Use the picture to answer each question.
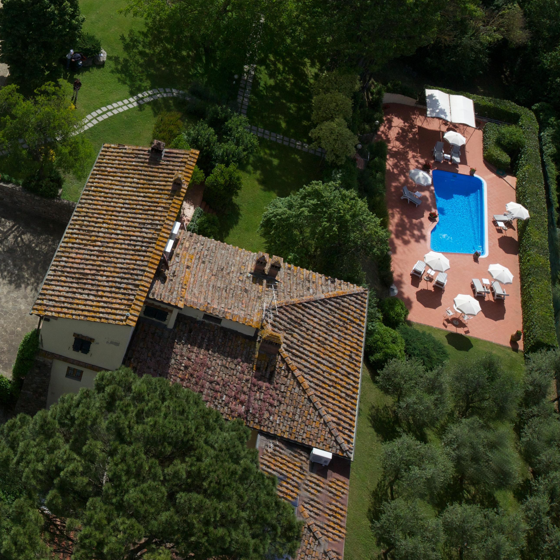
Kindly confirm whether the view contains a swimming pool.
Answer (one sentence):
Yes, the image includes a swimming pool.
